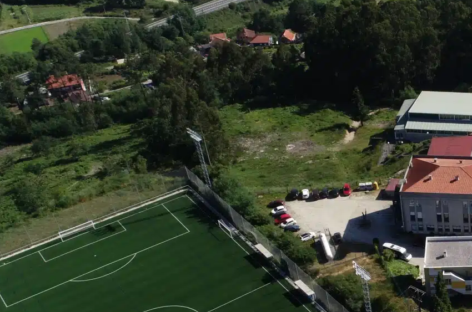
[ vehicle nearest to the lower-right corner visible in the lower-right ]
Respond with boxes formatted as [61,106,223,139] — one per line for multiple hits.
[383,240,412,259]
